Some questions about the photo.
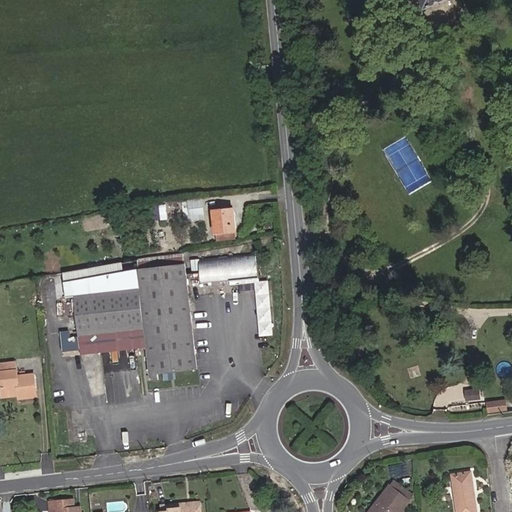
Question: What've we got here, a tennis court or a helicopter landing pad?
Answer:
tennis court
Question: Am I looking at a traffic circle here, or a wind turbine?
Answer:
traffic circle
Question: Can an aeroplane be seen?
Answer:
No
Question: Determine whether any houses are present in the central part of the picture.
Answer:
Yes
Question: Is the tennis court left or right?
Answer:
right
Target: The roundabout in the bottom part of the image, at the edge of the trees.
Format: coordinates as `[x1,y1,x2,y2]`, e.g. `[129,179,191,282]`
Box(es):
[256,368,372,485]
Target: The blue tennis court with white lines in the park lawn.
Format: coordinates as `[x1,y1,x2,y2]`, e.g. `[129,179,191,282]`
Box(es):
[382,136,432,195]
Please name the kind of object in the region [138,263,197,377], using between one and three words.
building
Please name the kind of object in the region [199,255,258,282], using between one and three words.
hangar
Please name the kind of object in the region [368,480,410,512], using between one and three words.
house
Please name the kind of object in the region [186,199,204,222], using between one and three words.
barn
